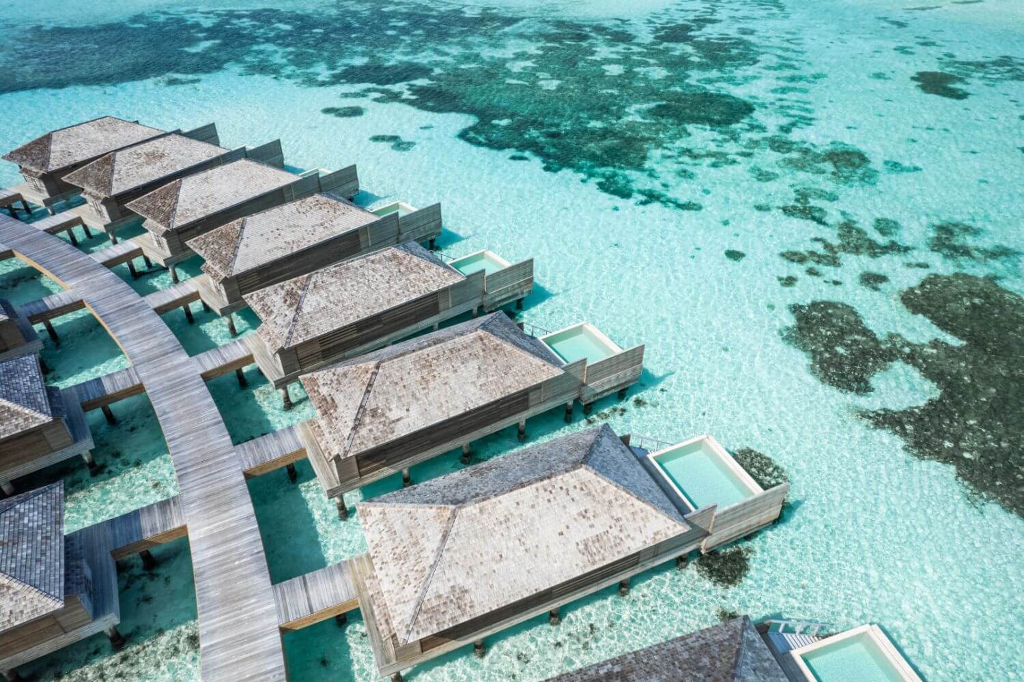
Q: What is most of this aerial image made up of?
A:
water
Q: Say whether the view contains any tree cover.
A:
No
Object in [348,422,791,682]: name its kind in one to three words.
house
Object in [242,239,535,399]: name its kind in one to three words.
house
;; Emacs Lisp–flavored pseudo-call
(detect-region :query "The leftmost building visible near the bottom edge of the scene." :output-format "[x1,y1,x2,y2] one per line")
[0,478,119,679]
